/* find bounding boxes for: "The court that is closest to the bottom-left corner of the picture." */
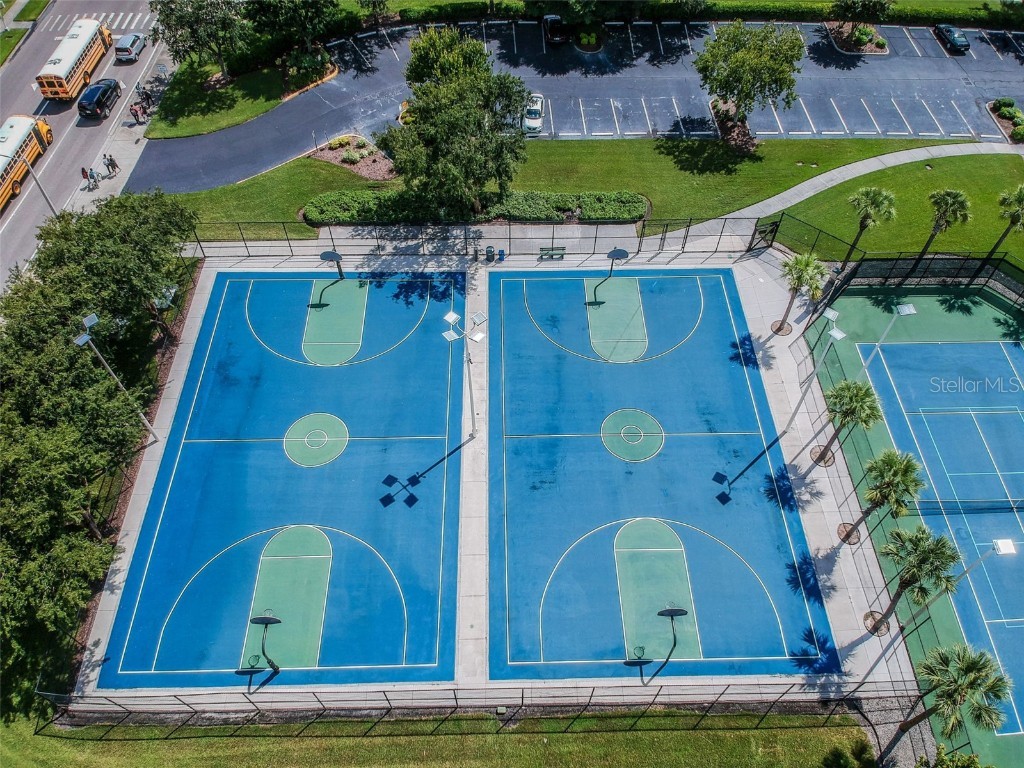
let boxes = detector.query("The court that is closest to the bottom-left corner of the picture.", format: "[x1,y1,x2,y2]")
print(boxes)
[92,271,465,690]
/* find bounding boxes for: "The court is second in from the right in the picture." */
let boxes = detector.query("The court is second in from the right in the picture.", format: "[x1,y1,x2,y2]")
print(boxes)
[488,269,843,680]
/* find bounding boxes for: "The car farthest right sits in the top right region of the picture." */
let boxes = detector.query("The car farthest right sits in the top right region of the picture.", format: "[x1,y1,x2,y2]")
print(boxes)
[937,22,974,52]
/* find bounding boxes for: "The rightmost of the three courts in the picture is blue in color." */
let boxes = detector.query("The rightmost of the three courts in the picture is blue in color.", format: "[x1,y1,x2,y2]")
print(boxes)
[804,286,1024,768]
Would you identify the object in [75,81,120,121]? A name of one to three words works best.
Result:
car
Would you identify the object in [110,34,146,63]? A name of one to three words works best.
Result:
car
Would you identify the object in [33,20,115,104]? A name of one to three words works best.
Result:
bus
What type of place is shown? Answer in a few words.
sports ground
